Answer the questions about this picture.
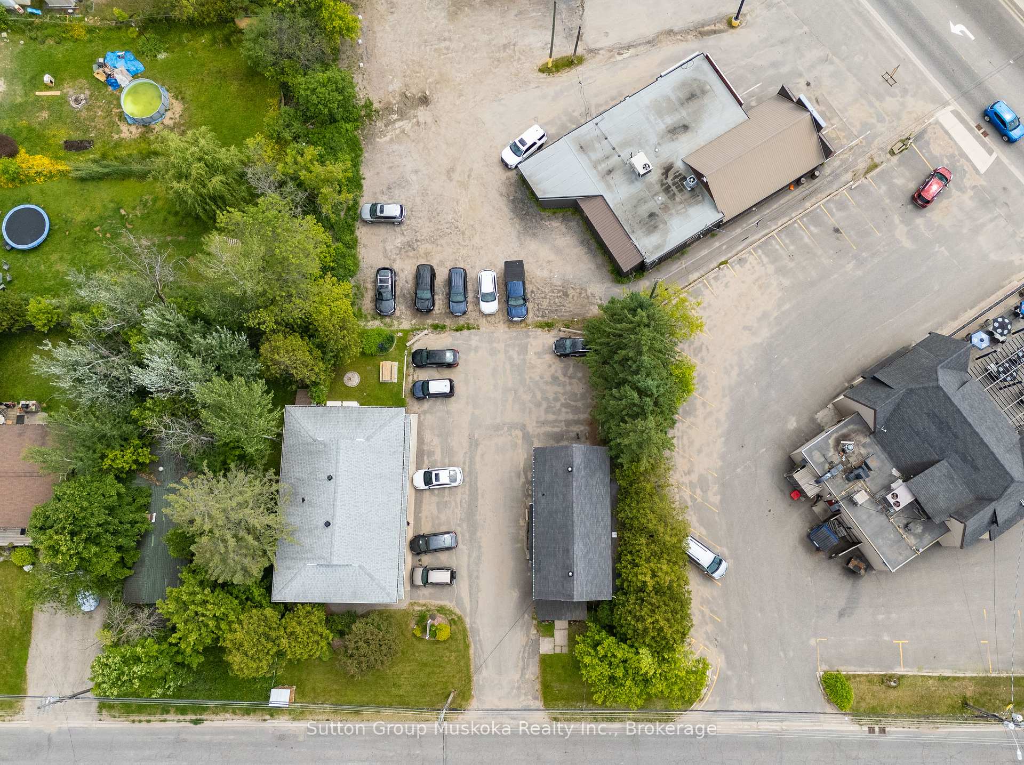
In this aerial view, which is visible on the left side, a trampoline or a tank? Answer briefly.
trampoline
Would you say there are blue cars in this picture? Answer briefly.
Yes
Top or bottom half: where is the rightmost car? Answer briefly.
top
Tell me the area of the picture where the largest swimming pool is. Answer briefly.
top left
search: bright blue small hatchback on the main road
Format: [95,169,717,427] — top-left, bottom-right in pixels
[983,104,1024,143]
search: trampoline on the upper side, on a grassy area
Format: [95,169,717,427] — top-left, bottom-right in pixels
[1,205,55,250]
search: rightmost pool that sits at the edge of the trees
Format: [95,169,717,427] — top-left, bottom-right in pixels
[119,79,168,123]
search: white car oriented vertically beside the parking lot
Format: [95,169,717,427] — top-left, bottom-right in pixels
[477,270,499,315]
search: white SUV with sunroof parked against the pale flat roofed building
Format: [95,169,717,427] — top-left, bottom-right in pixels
[502,125,548,167]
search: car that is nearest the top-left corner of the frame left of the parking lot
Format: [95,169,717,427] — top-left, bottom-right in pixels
[361,201,408,226]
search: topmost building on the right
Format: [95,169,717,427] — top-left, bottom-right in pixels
[518,49,837,276]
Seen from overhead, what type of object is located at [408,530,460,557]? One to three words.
car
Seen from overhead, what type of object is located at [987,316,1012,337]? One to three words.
umbrella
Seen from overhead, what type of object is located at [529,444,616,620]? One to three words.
house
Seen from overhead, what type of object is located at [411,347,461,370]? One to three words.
car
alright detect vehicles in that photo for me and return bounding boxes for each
[551,334,600,359]
[446,268,470,316]
[983,104,1024,143]
[679,535,731,581]
[912,169,951,209]
[477,270,499,315]
[502,125,548,167]
[411,377,457,401]
[412,466,465,491]
[412,265,436,314]
[411,347,461,370]
[410,564,458,590]
[504,260,529,321]
[361,201,408,226]
[373,267,397,316]
[408,530,460,557]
